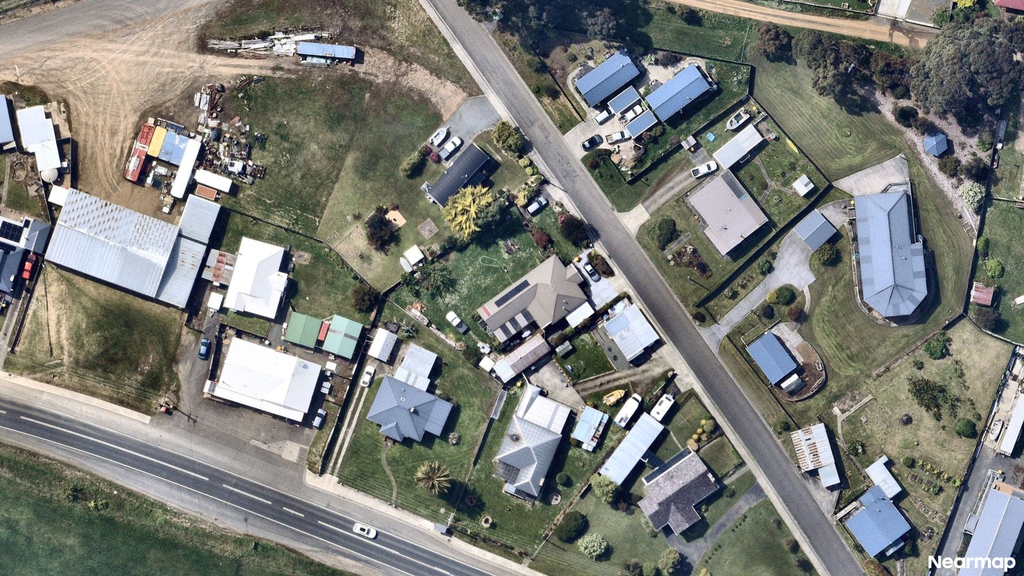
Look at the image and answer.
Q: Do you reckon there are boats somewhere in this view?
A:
Yes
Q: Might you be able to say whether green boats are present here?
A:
No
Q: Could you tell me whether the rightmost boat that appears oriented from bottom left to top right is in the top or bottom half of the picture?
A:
top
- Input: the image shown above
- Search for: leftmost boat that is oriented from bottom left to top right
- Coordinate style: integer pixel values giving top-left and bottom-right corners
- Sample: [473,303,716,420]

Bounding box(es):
[429,127,447,147]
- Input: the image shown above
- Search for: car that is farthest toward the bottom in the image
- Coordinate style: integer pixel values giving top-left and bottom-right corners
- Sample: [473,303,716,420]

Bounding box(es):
[351,523,378,540]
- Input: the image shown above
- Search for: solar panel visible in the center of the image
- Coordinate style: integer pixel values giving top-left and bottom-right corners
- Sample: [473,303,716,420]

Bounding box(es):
[494,280,530,308]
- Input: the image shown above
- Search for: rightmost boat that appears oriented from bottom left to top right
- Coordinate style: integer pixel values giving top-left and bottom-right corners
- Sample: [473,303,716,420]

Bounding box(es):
[726,108,750,130]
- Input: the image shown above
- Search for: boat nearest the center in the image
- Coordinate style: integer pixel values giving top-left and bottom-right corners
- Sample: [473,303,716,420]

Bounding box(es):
[400,257,413,273]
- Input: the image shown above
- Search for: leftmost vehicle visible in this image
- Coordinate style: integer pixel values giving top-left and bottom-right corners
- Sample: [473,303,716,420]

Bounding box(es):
[20,253,37,279]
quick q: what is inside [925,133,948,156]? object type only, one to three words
gazebo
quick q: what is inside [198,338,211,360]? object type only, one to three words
vehicle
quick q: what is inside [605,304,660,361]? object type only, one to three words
house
